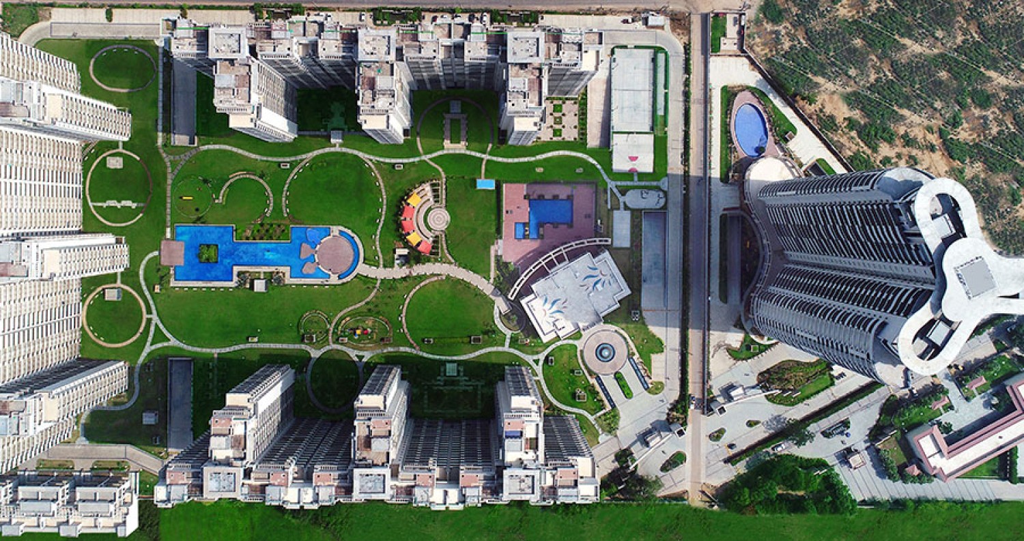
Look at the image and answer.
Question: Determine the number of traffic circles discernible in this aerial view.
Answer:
1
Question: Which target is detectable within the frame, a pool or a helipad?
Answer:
pool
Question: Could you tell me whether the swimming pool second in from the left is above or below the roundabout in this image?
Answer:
above it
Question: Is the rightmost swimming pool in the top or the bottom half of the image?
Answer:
top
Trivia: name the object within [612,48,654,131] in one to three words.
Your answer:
sports court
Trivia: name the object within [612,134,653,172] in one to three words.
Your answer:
sports court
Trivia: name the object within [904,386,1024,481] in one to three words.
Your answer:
house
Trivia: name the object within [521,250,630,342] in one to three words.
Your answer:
building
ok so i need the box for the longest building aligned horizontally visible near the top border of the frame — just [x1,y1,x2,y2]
[170,17,606,147]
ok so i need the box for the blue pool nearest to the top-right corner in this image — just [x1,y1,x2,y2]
[731,91,776,161]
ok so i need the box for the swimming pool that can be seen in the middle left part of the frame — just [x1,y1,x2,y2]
[160,224,365,286]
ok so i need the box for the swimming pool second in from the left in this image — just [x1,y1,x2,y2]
[502,182,598,270]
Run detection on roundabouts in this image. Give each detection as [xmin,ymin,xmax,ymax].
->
[578,325,632,376]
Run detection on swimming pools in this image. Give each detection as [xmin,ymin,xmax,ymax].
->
[502,182,598,270]
[731,91,776,161]
[160,224,365,286]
